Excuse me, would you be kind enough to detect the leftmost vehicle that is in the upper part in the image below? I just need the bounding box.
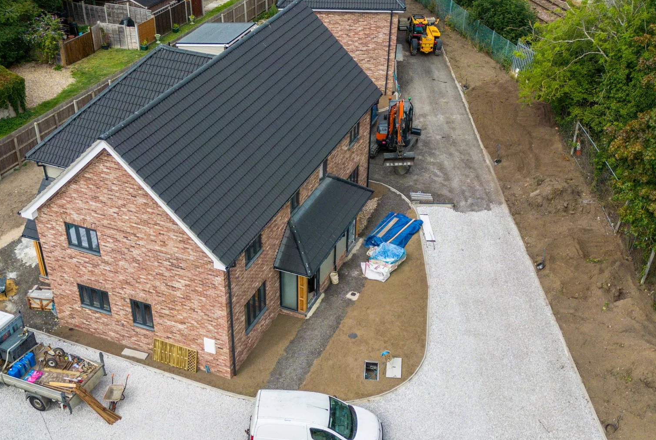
[376,96,413,160]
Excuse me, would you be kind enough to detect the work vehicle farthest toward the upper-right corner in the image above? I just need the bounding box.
[407,12,444,56]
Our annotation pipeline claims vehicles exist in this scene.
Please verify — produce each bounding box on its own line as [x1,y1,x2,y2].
[376,96,413,160]
[407,12,444,56]
[0,311,110,417]
[242,388,386,440]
